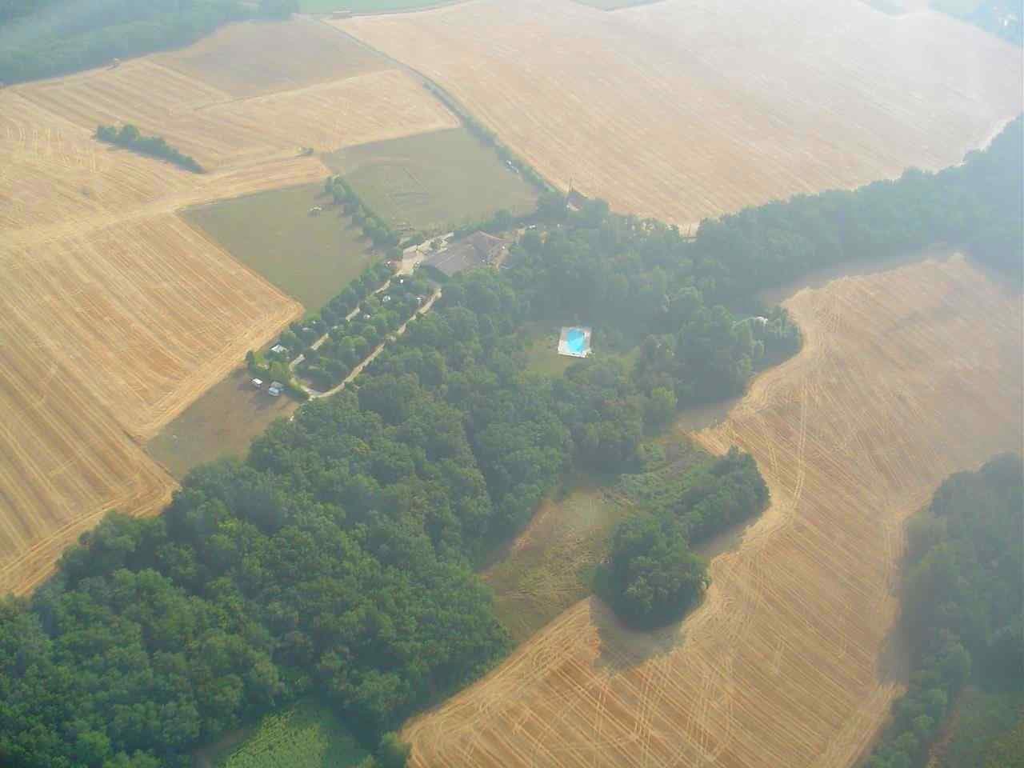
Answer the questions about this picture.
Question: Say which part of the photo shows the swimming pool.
center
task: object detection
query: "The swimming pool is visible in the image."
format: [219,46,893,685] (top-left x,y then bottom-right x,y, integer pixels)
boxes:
[557,326,588,356]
